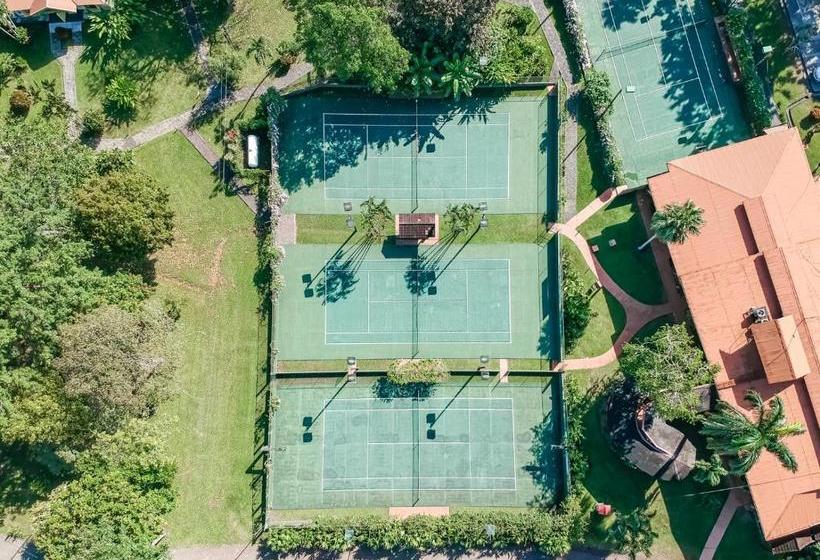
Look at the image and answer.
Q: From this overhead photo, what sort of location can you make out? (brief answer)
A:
sports ground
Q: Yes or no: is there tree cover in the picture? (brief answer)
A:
Yes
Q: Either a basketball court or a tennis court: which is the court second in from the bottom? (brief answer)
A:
tennis court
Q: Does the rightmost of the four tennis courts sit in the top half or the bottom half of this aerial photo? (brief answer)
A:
top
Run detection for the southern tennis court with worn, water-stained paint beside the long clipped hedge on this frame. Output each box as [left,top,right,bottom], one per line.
[269,387,564,510]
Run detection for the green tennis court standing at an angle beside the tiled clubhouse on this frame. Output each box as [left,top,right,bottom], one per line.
[577,0,763,187]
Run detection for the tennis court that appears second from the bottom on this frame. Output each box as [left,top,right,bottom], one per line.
[276,244,555,359]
